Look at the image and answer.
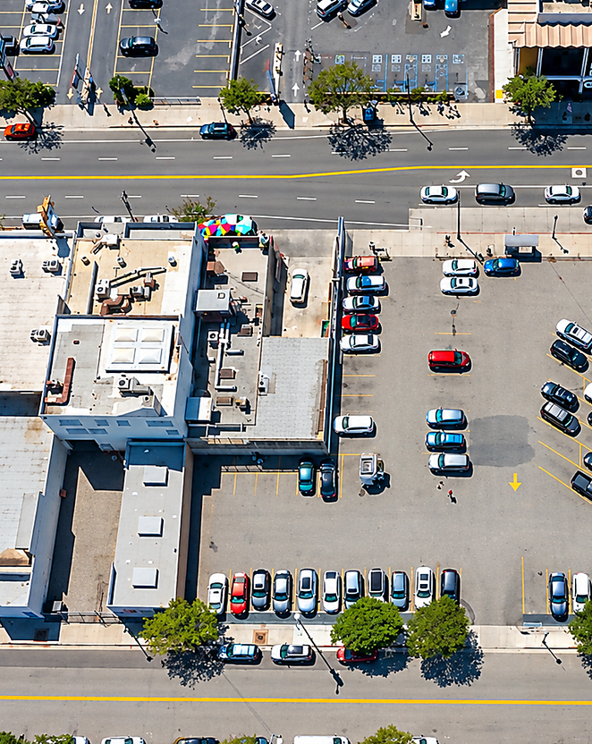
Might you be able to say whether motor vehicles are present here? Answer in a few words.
Yes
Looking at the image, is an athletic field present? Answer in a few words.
No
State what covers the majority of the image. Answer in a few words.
paved ground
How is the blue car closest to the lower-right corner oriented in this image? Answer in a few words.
vertically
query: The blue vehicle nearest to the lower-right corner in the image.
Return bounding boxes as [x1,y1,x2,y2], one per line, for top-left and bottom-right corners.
[549,573,569,620]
